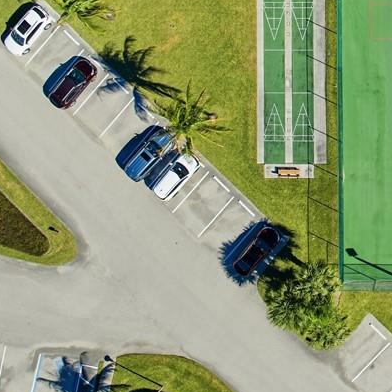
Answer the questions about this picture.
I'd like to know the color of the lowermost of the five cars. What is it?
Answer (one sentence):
The lowermost of the five cars looks black in the image.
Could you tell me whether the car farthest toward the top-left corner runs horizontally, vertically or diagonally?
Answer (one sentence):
In this picture, the car farthest toward the top-left corner lies diagonally.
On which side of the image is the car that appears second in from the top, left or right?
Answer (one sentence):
It is on the left.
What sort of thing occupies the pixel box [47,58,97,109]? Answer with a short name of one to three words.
car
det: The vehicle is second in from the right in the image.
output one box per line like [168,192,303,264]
[153,153,201,204]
